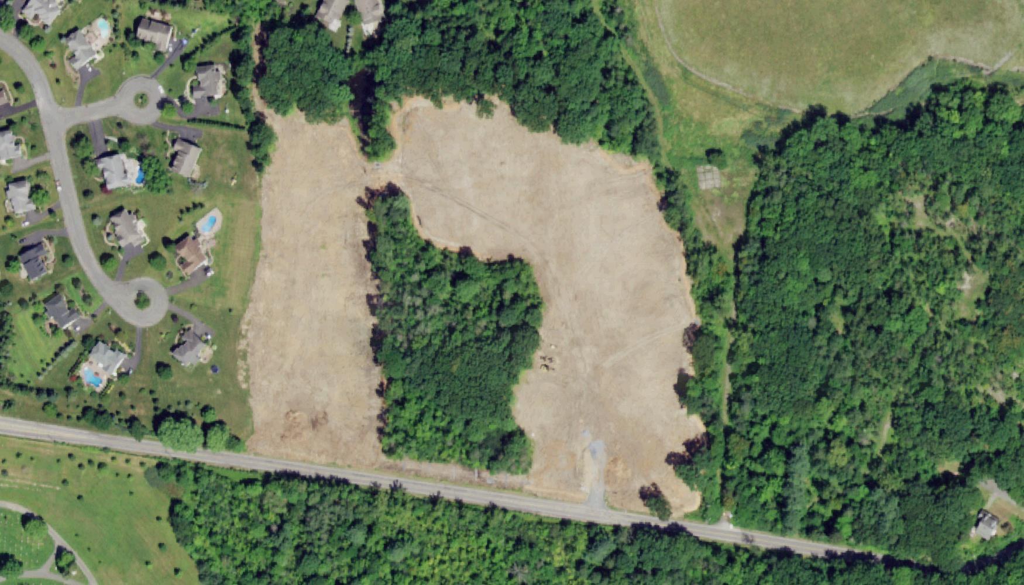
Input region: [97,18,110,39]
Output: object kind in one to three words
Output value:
swimming pool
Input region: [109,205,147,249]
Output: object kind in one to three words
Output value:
house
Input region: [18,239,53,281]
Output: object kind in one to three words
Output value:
house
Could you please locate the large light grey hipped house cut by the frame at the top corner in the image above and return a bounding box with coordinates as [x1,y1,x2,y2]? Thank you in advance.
[20,0,63,31]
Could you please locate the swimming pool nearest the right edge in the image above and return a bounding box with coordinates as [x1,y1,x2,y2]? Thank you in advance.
[200,214,217,233]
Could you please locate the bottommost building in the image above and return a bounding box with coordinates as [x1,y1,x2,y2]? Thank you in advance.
[973,508,1000,544]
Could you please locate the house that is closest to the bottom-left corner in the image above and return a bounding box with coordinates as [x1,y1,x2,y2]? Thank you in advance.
[87,339,129,379]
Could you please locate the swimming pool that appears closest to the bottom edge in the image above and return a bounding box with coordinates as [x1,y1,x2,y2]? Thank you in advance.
[83,368,103,387]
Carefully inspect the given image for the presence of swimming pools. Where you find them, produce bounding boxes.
[83,368,103,387]
[97,18,110,39]
[136,164,145,184]
[200,214,217,233]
